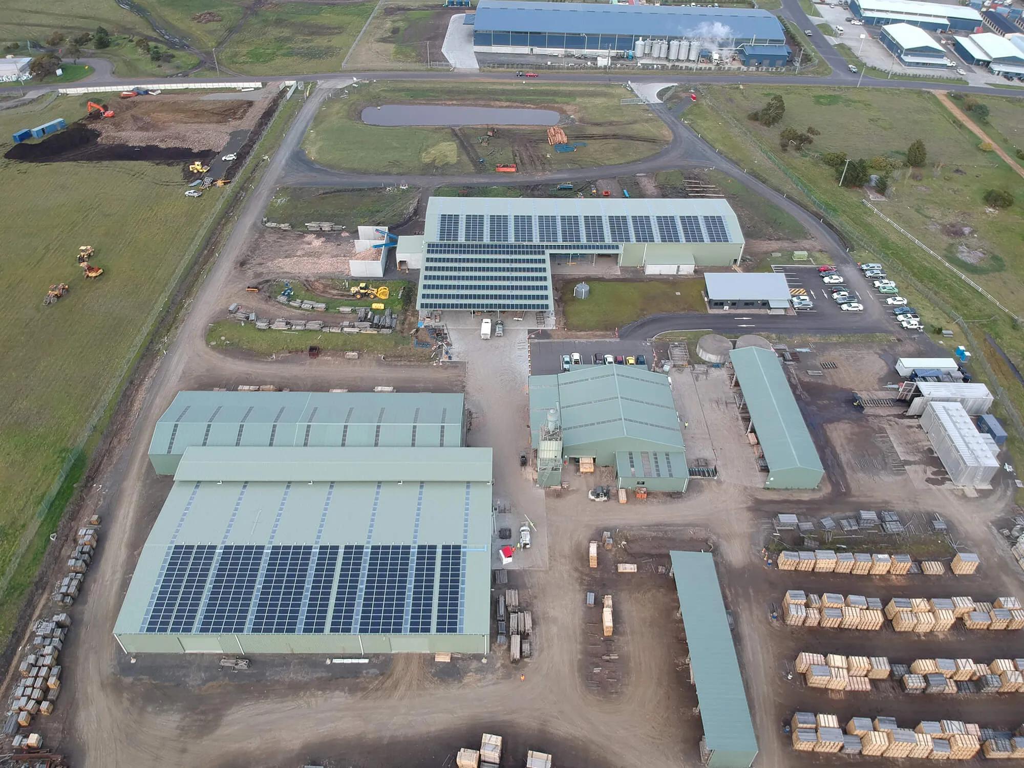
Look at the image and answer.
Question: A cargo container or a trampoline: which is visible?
cargo container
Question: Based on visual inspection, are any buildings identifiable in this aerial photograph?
Yes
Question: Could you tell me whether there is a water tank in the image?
Yes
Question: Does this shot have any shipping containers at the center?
No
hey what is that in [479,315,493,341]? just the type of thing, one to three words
vehicle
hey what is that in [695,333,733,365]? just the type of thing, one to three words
water tank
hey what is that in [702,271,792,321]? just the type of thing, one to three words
building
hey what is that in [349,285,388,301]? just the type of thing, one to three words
work vehicle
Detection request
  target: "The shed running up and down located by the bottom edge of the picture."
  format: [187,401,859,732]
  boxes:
[668,549,757,766]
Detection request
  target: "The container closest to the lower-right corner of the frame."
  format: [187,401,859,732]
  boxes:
[972,412,1010,443]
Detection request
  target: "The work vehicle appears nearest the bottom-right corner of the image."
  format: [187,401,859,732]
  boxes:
[850,394,866,407]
